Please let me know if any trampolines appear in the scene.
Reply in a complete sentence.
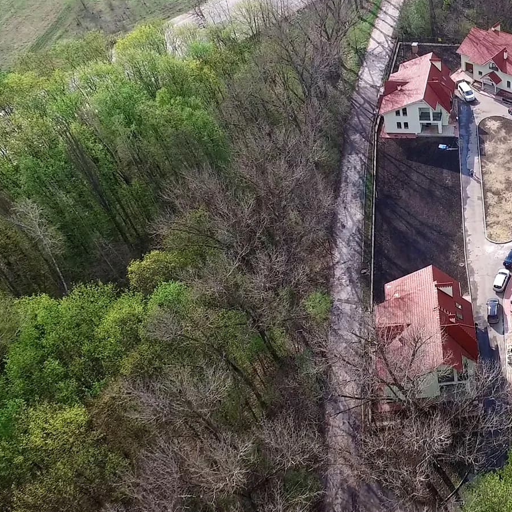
No, no trampoline can be seen from above.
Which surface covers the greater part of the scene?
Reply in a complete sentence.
Most of the picture is covered by trees.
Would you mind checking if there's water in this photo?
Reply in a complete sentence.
No, there's no water in this view.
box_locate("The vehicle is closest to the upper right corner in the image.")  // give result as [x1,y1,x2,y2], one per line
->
[458,81,472,98]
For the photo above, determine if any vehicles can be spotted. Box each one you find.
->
[493,272,509,290]
[503,251,512,267]
[488,300,501,322]
[458,81,472,98]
